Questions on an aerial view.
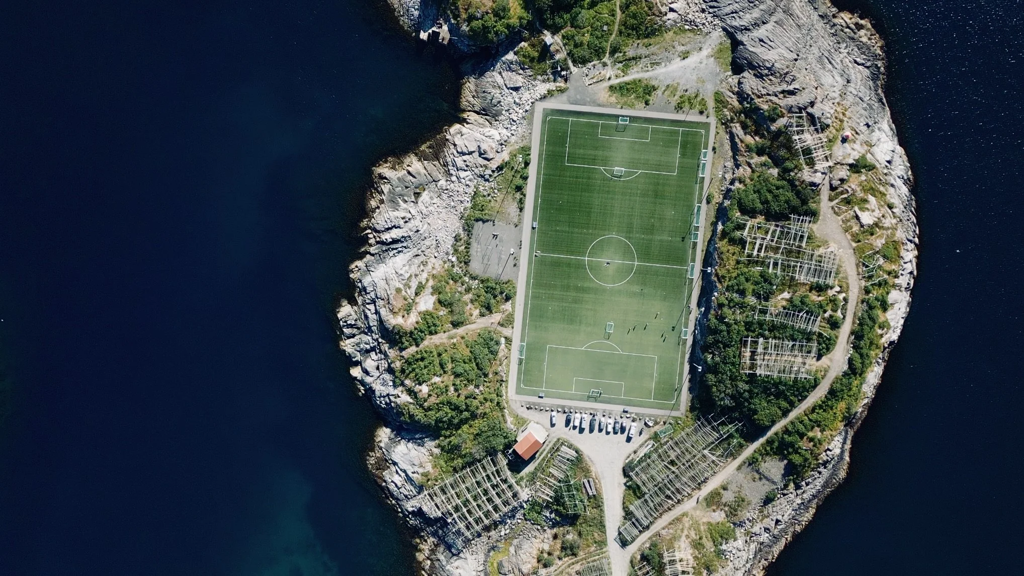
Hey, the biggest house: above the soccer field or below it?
below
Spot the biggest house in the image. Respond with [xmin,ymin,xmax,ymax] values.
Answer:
[514,431,543,460]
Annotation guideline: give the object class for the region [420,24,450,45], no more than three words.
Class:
pier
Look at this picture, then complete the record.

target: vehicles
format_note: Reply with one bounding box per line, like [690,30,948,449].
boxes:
[607,419,613,432]
[599,418,605,429]
[590,418,596,430]
[630,423,636,437]
[621,420,626,430]
[613,420,619,432]
[574,413,580,426]
[551,412,557,424]
[581,414,588,428]
[566,413,572,424]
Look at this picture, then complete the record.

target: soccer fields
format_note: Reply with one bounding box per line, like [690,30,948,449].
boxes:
[510,102,715,416]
